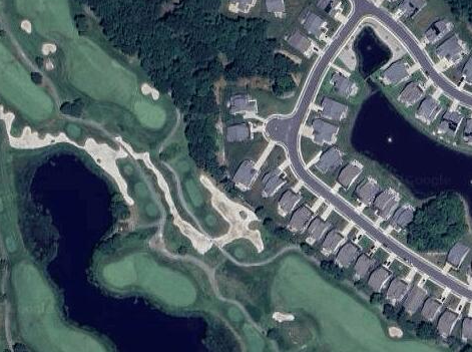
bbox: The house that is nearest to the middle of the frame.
[232,163,259,192]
